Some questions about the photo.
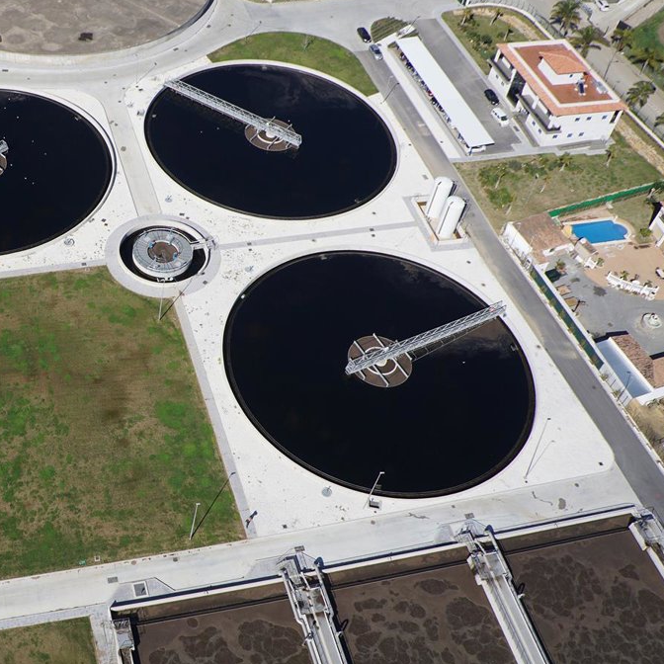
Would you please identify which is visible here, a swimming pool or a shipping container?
swimming pool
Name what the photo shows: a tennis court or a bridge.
bridge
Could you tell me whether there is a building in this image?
Yes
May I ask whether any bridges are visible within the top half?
Yes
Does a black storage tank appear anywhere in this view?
Yes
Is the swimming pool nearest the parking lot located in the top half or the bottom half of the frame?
top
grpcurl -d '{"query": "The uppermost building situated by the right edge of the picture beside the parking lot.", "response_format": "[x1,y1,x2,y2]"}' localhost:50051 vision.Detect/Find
[486,37,633,146]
